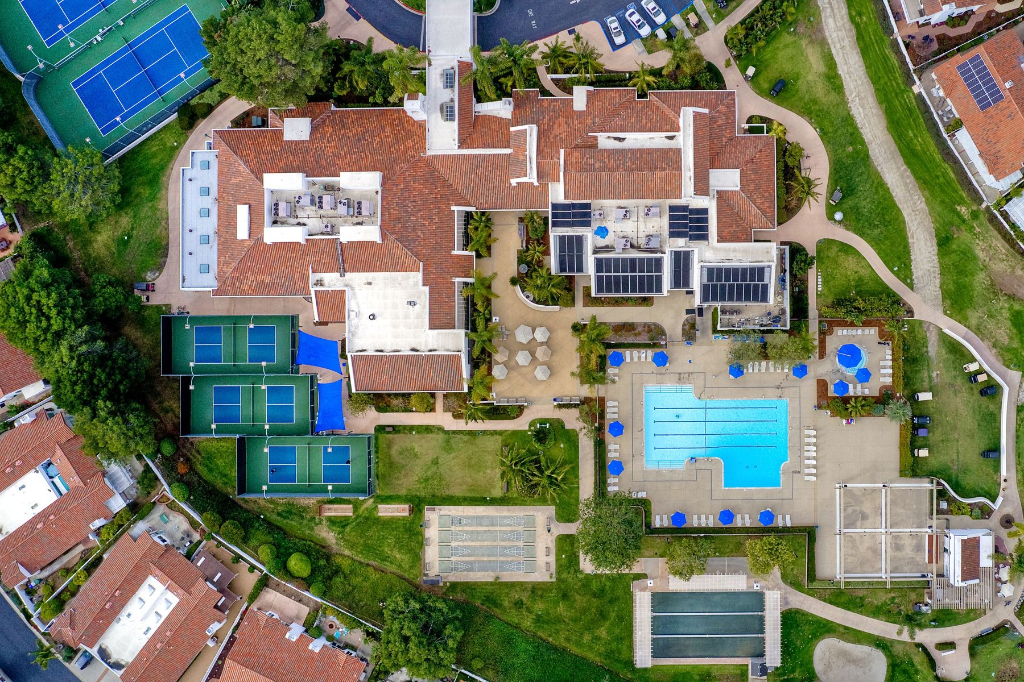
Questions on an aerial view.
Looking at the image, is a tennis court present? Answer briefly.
Yes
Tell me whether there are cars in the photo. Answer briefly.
Yes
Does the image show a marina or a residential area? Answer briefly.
residential area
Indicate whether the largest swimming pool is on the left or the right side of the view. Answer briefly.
right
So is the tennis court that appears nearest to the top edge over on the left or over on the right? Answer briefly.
left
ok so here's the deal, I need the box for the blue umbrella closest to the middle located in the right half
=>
[608,351,624,367]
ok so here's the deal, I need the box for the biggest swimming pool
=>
[640,384,793,492]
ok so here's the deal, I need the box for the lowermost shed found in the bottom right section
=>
[748,657,767,677]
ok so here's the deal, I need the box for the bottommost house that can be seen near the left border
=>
[50,518,243,682]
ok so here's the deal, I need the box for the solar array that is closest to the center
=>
[558,237,584,271]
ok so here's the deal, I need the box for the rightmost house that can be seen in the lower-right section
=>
[936,528,993,585]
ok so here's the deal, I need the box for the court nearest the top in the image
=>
[20,0,116,45]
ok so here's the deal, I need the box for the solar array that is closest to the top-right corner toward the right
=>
[956,53,1005,111]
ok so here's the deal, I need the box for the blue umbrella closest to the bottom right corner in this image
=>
[759,509,774,526]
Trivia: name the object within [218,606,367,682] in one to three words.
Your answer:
house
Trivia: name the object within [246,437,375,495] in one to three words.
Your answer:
sports court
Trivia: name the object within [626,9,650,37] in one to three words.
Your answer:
car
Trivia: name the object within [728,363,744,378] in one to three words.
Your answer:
umbrella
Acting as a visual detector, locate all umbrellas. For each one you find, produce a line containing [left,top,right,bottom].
[792,362,807,379]
[608,351,624,367]
[995,582,1017,599]
[994,565,1011,582]
[854,367,871,383]
[759,509,774,526]
[492,364,508,379]
[536,346,551,361]
[829,212,842,221]
[671,511,687,527]
[718,509,734,525]
[515,325,533,343]
[608,460,623,476]
[608,421,623,437]
[493,347,508,361]
[653,351,667,367]
[535,364,549,381]
[832,380,848,396]
[837,345,861,369]
[535,326,549,342]
[516,350,531,365]
[728,363,744,378]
